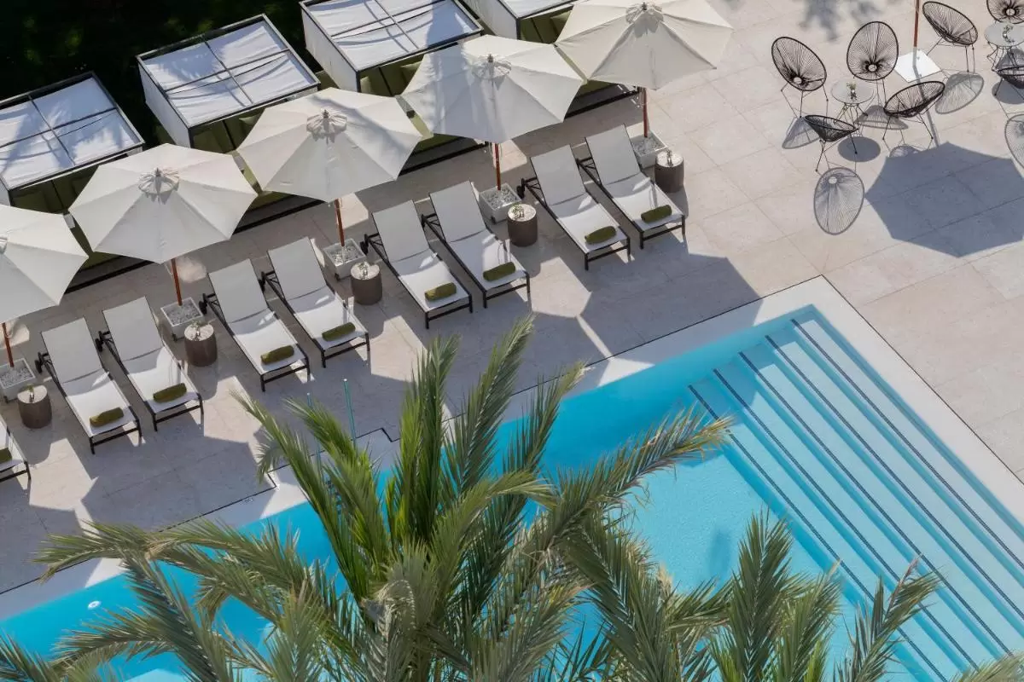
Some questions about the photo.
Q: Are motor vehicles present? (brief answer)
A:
No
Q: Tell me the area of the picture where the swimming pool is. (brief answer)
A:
bottom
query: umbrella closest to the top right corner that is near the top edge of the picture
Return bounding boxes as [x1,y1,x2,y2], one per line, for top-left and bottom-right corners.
[887,0,942,84]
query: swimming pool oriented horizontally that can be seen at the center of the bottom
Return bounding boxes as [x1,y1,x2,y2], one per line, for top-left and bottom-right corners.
[3,310,926,682]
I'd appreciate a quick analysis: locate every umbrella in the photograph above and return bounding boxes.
[236,88,422,253]
[68,144,259,311]
[887,0,942,84]
[556,0,733,143]
[0,202,87,372]
[403,34,585,196]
